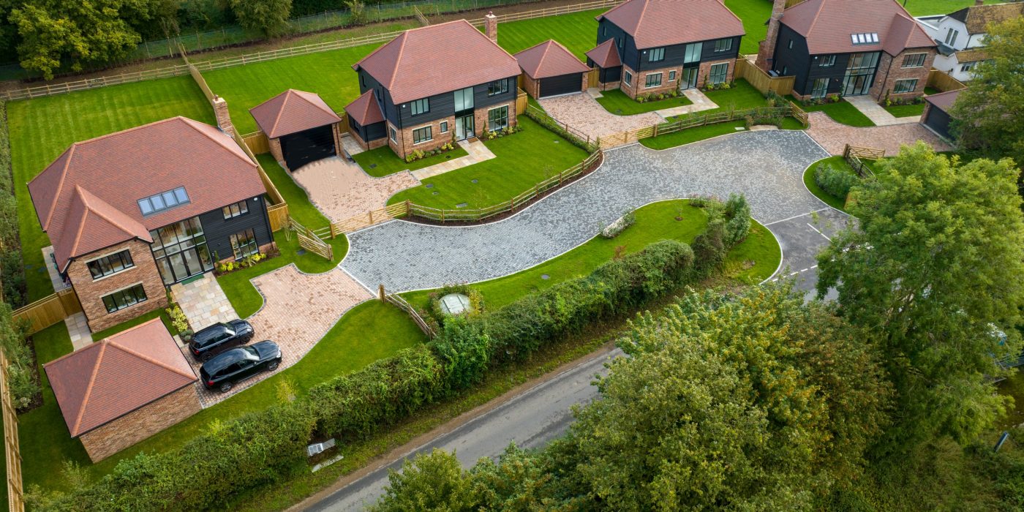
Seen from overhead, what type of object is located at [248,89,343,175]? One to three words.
building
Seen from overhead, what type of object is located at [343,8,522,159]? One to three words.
house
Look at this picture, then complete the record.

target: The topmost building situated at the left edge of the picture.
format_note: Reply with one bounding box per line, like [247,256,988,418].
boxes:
[25,92,275,332]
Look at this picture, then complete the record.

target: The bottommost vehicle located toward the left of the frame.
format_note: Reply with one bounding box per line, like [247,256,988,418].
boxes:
[197,340,283,395]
